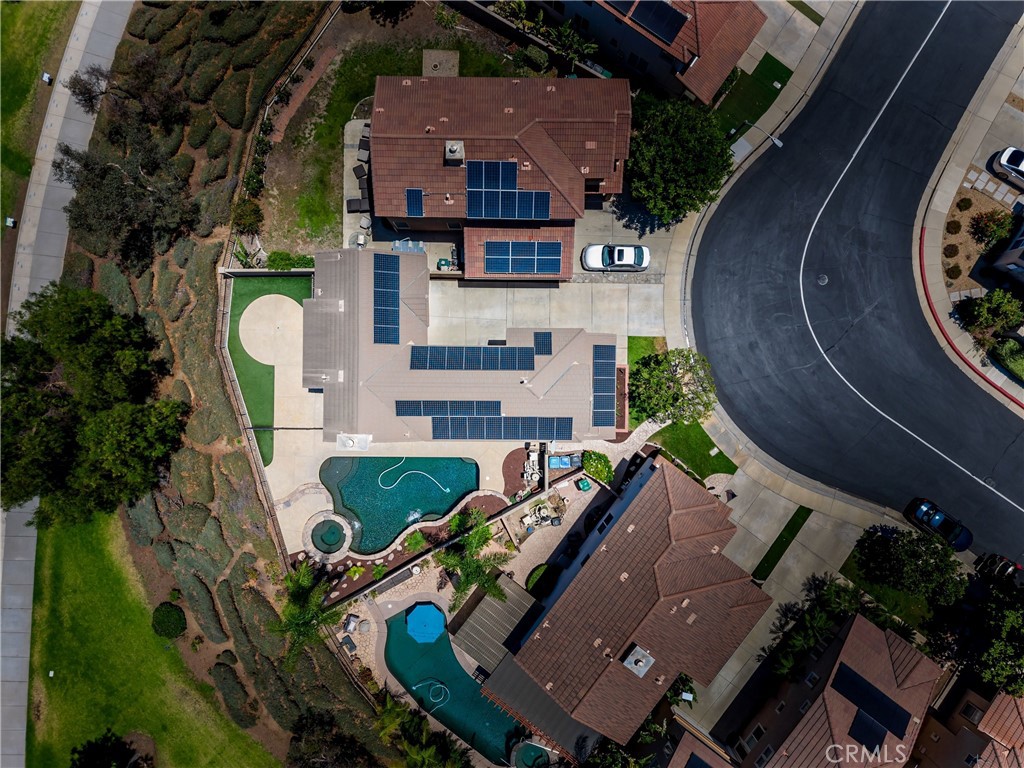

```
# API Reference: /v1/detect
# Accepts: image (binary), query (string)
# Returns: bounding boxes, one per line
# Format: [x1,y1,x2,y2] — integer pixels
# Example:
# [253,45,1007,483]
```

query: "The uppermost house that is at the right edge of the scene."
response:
[992,226,1024,290]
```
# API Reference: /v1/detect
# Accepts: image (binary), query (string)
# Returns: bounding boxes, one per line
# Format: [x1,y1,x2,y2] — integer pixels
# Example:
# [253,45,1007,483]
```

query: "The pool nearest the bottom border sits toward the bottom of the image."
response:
[374,589,555,768]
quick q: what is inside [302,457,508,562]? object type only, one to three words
swimming pool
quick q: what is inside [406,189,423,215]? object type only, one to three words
solar panel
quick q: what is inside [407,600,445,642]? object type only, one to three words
umbrella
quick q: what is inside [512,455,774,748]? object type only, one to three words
house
